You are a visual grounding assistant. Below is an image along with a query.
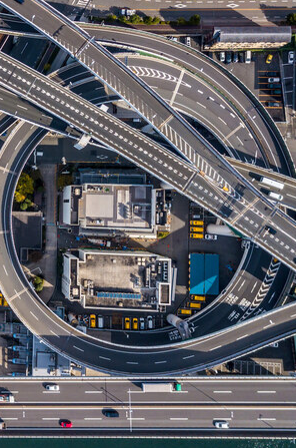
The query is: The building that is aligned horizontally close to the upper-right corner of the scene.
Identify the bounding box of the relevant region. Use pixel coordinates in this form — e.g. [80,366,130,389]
[199,25,294,51]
